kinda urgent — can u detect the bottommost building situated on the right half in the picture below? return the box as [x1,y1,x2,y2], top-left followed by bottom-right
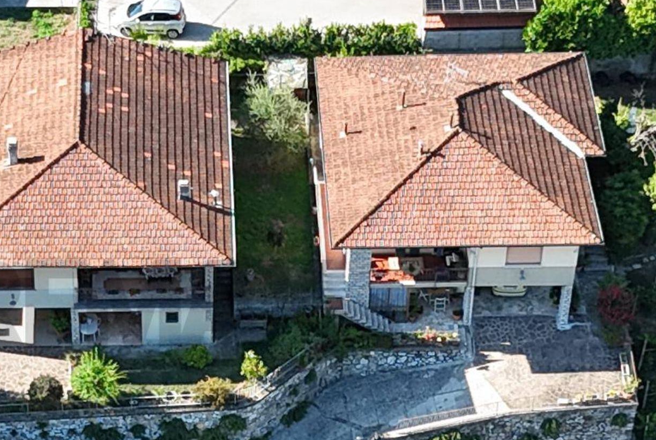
[310,49,609,326]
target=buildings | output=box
[310,49,609,326]
[417,0,536,50]
[0,27,238,349]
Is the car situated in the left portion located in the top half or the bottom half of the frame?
top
